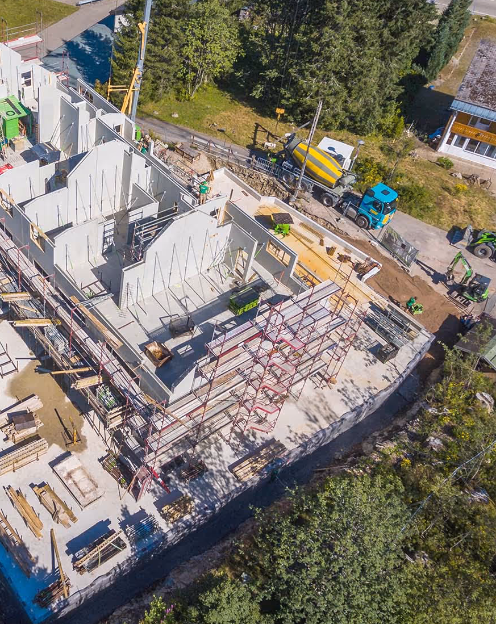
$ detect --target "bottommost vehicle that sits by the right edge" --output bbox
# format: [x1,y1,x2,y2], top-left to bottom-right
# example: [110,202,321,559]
[438,246,494,309]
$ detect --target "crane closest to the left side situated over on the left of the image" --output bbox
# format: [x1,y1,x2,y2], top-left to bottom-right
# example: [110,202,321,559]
[83,0,153,154]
